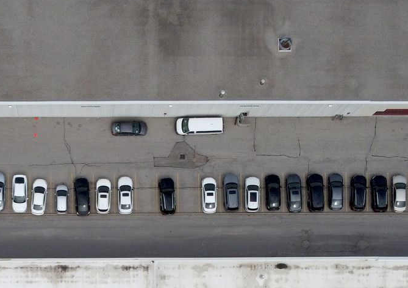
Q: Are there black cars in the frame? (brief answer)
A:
Yes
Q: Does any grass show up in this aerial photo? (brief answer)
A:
No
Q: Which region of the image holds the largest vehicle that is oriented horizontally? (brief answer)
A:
center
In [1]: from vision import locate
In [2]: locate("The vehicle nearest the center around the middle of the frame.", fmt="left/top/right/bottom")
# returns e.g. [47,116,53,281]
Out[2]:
[175,115,224,136]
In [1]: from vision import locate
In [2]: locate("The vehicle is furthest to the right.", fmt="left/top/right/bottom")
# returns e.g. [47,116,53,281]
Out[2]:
[390,175,408,213]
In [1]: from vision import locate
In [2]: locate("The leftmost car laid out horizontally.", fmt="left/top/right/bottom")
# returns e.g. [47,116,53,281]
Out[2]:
[111,120,147,137]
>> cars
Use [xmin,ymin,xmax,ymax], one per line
[10,175,29,214]
[326,174,343,210]
[264,175,282,211]
[222,174,240,213]
[31,178,48,216]
[73,177,91,217]
[111,120,147,137]
[95,179,113,215]
[0,173,7,211]
[117,177,135,215]
[369,175,389,214]
[390,175,408,213]
[158,178,176,216]
[54,185,70,214]
[285,174,303,213]
[243,177,262,213]
[200,177,218,215]
[349,175,368,211]
[305,174,325,213]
